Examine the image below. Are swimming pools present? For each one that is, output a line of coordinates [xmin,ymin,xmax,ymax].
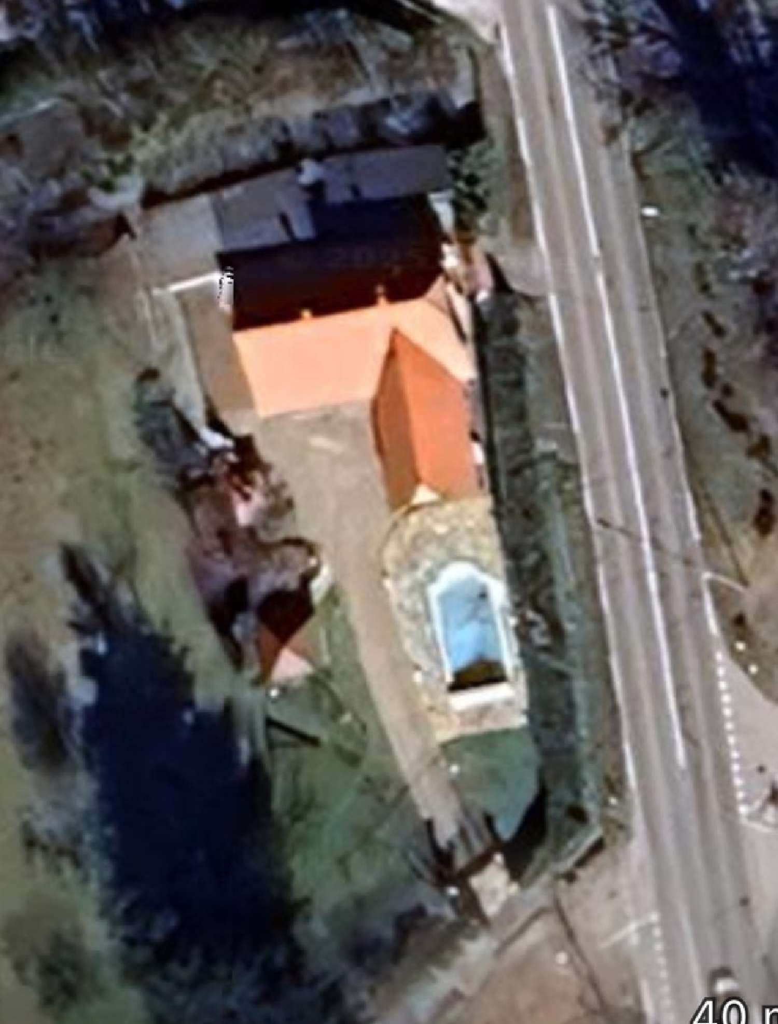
[428,564,514,698]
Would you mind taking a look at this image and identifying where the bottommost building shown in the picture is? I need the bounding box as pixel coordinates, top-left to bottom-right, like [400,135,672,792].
[256,606,325,687]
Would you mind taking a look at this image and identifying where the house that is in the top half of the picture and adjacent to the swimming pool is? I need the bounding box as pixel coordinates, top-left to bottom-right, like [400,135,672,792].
[235,242,488,517]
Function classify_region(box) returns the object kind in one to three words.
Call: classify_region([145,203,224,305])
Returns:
shed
